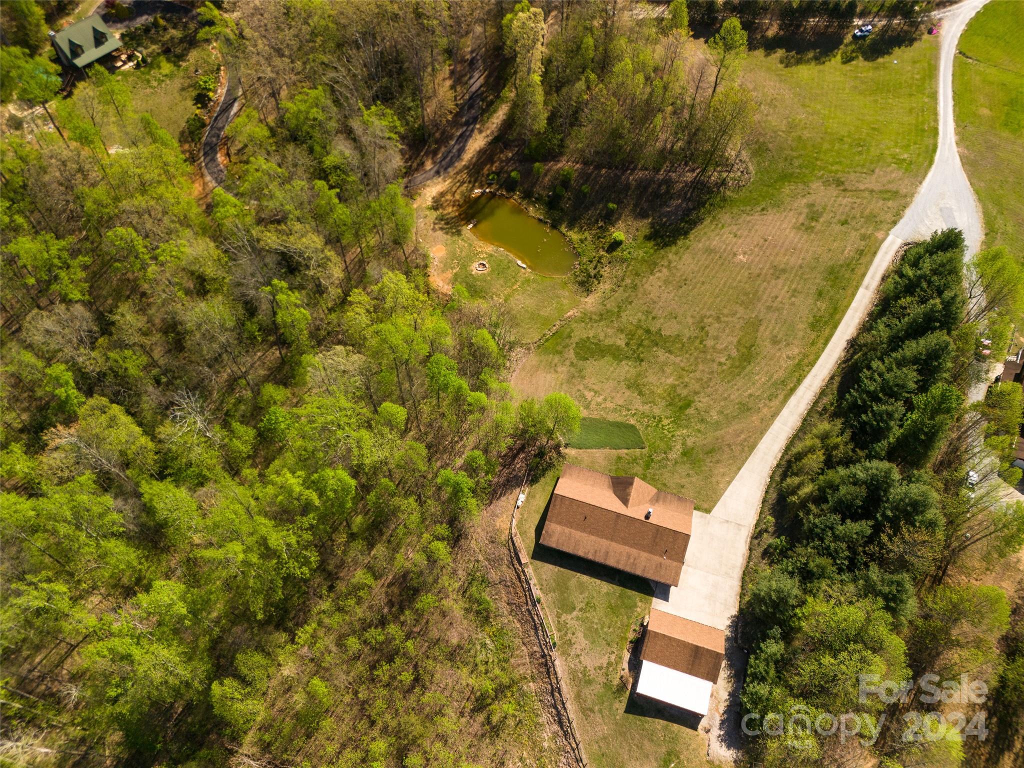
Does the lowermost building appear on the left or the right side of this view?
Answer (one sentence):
The lowermost building is on the right side of the image.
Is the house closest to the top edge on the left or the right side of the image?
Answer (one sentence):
It is on the left.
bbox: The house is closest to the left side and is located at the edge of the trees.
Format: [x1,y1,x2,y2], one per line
[47,15,129,78]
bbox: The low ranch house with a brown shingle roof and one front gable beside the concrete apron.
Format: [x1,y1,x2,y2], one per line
[539,463,694,588]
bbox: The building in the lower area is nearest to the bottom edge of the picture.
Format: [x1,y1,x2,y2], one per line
[633,608,725,719]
